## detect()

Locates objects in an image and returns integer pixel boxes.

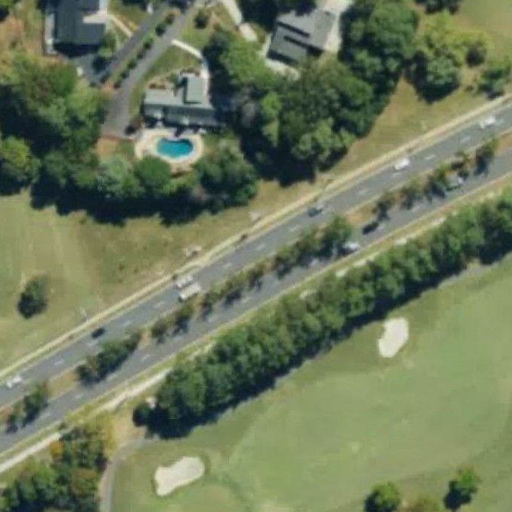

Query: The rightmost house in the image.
[268,6,343,61]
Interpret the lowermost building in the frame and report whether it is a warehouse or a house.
house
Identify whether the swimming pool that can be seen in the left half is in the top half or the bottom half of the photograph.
top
